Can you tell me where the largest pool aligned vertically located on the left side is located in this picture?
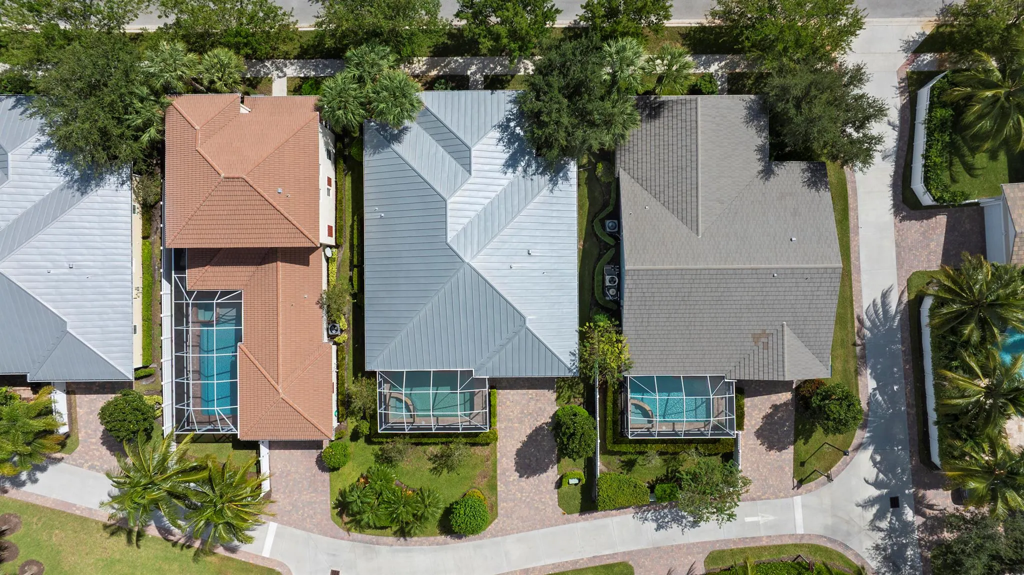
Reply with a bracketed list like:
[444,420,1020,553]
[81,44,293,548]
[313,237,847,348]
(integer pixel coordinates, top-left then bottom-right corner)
[197,304,241,419]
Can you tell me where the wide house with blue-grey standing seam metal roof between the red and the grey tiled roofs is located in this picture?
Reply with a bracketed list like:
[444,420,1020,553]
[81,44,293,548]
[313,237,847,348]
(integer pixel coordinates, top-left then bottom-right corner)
[363,89,580,377]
